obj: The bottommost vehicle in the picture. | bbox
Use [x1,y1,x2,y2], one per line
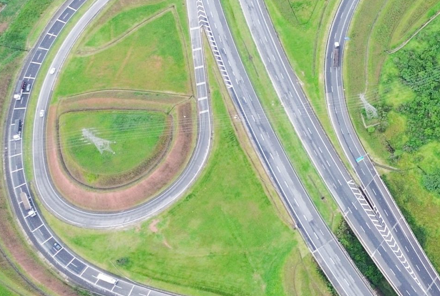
[95,272,118,284]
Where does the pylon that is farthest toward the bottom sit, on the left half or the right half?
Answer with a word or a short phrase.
left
